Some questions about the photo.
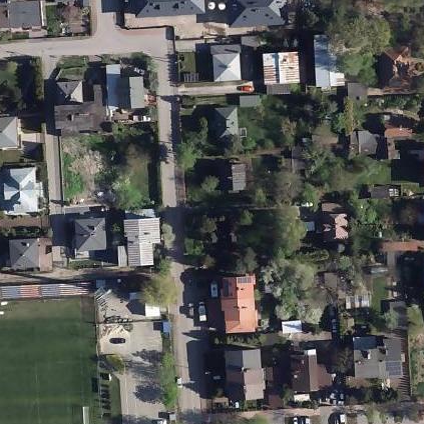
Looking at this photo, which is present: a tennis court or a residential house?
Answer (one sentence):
This aerial view contains a residential house.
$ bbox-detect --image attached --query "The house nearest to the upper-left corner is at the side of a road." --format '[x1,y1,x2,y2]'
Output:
[0,1,48,35]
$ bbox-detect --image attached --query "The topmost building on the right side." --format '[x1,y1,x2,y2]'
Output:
[225,0,289,28]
